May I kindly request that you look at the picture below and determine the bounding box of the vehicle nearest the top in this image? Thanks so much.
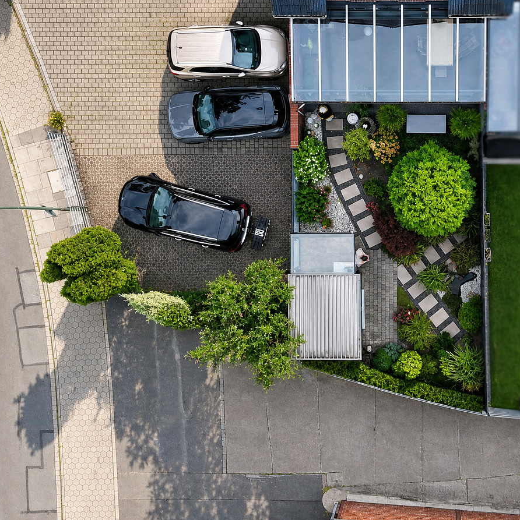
[170,14,287,78]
